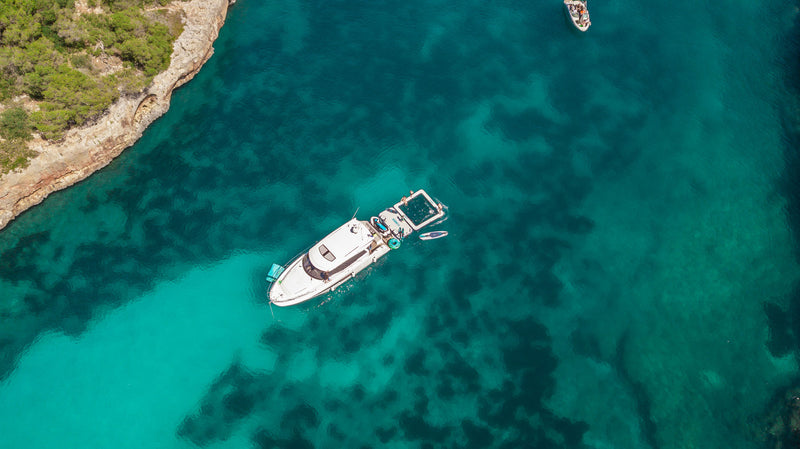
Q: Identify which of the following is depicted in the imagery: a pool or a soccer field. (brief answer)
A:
pool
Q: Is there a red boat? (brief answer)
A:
No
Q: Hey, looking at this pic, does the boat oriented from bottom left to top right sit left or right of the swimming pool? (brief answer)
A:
on its left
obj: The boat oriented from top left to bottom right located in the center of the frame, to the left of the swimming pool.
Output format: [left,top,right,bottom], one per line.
[374,217,395,239]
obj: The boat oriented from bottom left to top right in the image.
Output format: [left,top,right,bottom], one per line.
[264,208,402,305]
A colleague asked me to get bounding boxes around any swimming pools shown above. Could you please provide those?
[395,191,443,230]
